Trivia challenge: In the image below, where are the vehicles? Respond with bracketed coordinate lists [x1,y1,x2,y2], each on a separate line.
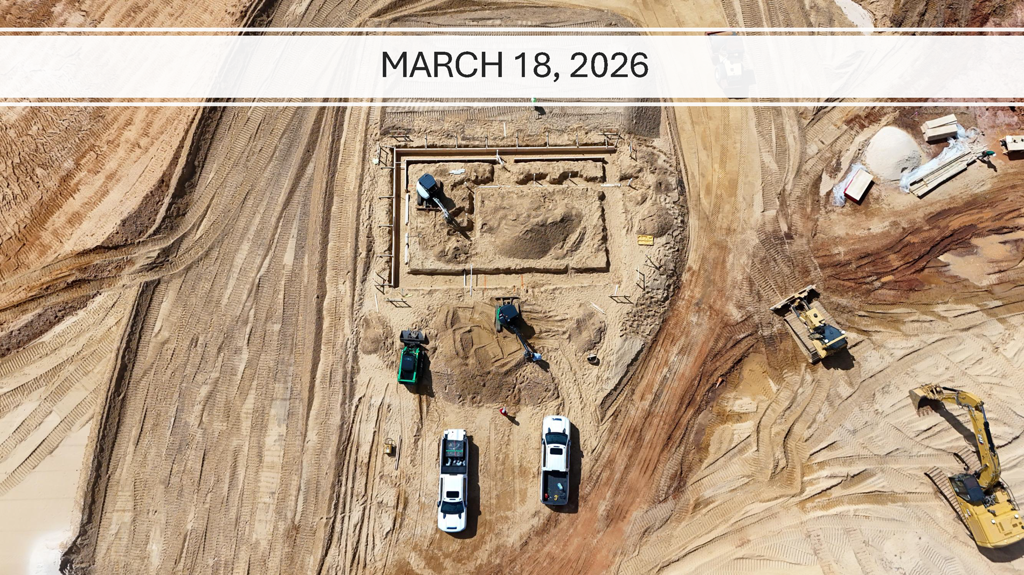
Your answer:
[770,284,850,363]
[413,170,454,227]
[540,417,574,513]
[396,335,428,387]
[907,380,1024,548]
[433,430,469,533]
[493,297,532,358]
